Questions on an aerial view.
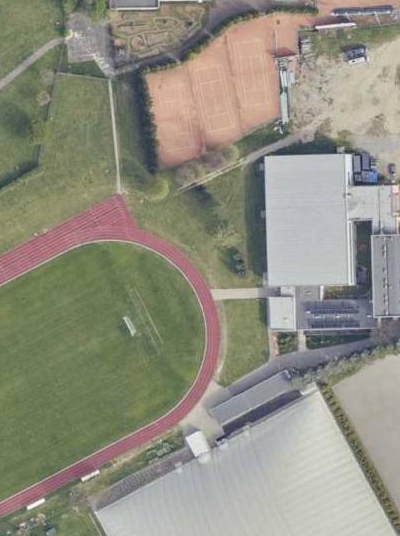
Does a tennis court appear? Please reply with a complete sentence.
Yes, this view includes a tennis court.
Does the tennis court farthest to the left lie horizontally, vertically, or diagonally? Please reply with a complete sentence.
In this picture, the tennis court farthest to the left is oriented vertically.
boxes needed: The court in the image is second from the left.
[189,61,235,138]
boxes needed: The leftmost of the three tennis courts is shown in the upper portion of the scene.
[155,79,199,156]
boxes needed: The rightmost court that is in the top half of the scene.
[229,36,276,110]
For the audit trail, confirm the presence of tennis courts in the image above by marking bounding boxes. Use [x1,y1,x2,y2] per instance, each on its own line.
[189,61,235,138]
[229,36,276,110]
[155,79,199,156]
